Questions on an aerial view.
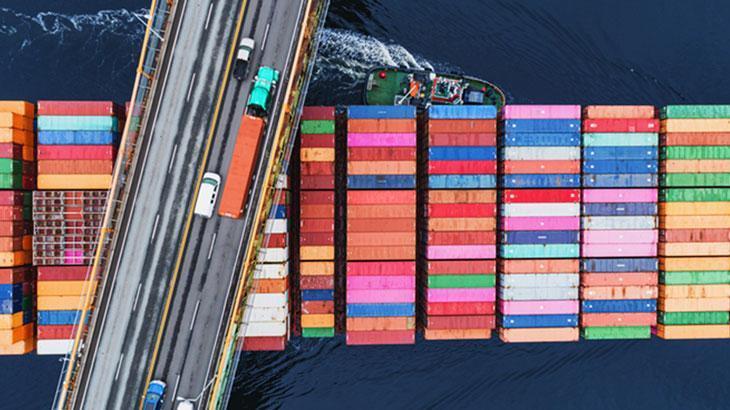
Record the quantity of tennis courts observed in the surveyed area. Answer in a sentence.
There are no tennis courts in the image.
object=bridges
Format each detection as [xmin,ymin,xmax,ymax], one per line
[47,0,331,410]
